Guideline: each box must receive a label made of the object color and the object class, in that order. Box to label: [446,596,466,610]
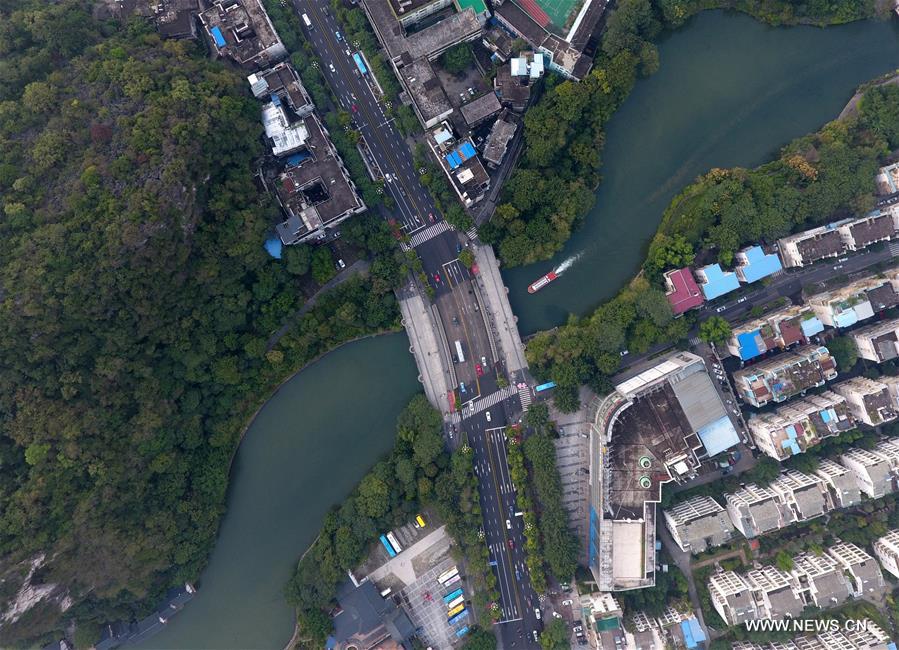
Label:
white vehicle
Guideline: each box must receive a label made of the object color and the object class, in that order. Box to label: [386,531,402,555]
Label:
white vehicle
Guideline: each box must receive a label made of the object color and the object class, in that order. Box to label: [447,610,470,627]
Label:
blue vehicle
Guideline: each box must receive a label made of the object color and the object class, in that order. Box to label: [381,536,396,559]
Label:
blue vehicle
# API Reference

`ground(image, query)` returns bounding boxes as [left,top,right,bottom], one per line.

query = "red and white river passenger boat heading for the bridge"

[529,272,559,291]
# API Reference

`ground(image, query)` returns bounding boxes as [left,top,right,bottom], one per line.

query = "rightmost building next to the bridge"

[585,350,740,591]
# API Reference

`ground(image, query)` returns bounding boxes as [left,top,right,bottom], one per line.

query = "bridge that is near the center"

[400,244,526,412]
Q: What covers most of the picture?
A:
trees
